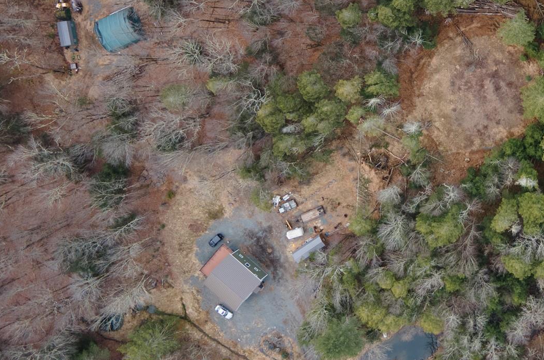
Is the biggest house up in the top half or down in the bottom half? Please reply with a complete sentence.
The biggest house sits in the bottom half of the picture.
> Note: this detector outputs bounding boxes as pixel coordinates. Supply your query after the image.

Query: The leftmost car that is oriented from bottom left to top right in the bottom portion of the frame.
[207,231,227,248]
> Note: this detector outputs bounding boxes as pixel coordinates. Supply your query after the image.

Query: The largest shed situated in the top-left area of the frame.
[58,21,80,47]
